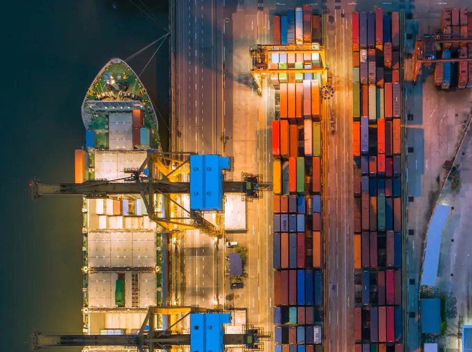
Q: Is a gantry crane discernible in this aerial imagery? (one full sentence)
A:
Yes, the frame does contain a gantry crane.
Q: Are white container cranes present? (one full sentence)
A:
No, there appears to be no white container crane in this shot.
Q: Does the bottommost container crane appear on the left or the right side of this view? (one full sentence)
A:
The bottommost container crane is on the left side of the image.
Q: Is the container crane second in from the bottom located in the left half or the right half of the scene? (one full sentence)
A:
The container crane second in from the bottom appears in the left half of the scene.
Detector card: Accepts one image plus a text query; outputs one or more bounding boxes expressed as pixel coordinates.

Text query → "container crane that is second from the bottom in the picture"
[29,149,270,243]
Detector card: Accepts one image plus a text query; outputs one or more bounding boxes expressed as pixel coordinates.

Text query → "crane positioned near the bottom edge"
[29,294,270,352]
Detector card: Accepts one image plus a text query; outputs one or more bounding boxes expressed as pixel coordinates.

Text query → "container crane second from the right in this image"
[251,31,329,100]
